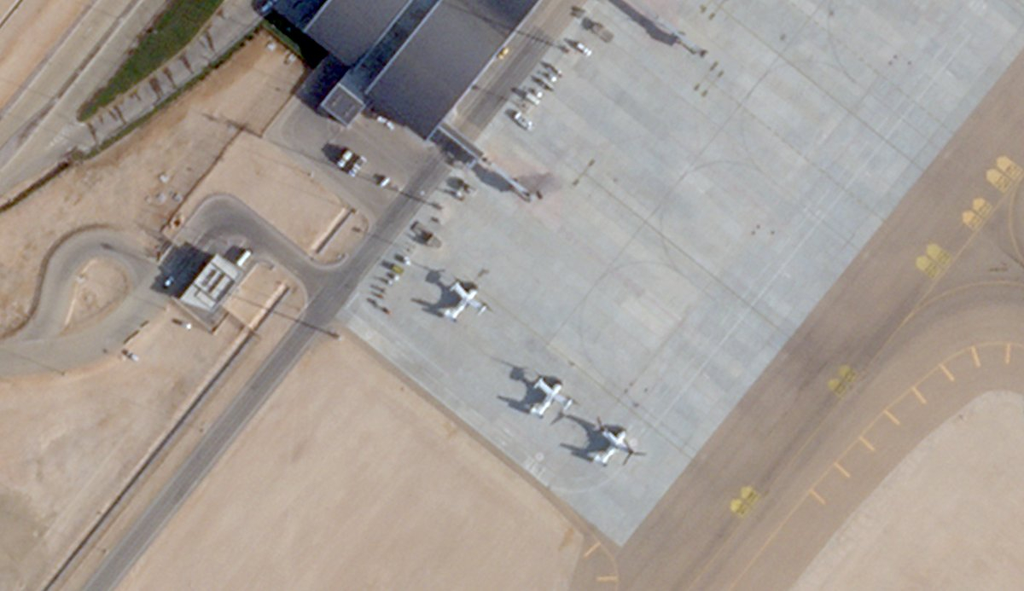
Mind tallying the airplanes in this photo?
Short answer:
3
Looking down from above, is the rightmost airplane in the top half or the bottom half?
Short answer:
bottom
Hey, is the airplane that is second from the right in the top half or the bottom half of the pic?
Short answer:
bottom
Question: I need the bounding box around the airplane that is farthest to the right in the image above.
[588,417,641,468]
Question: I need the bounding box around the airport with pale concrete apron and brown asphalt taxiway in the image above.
[335,0,1024,591]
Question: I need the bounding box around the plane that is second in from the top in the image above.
[528,373,578,423]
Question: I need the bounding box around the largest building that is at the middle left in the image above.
[181,253,243,311]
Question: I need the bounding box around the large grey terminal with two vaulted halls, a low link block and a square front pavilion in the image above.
[304,0,540,141]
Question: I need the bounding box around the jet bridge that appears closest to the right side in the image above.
[632,0,710,54]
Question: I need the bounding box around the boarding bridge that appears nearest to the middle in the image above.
[477,153,545,204]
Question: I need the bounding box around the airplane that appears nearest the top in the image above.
[444,274,494,324]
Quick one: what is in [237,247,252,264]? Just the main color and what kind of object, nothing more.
white vehicle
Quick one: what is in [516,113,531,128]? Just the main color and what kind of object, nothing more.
white vehicle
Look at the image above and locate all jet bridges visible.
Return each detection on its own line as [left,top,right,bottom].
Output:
[632,0,710,54]
[477,153,545,204]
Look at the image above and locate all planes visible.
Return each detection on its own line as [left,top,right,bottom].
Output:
[528,373,578,423]
[444,274,494,324]
[588,417,641,468]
